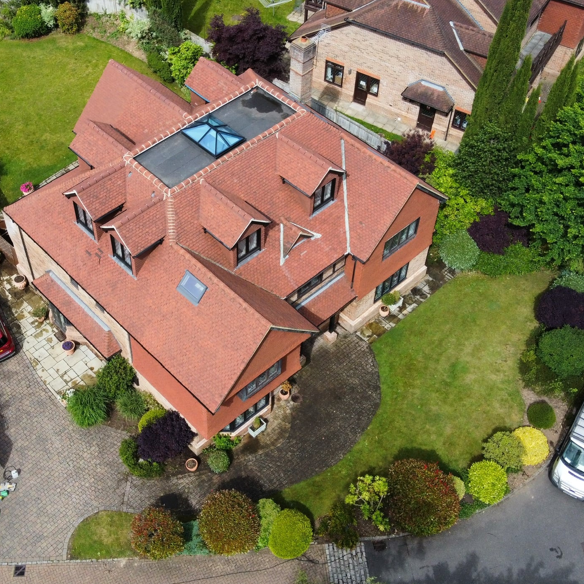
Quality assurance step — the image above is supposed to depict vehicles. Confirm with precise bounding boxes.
[545,401,584,514]
[0,309,18,367]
